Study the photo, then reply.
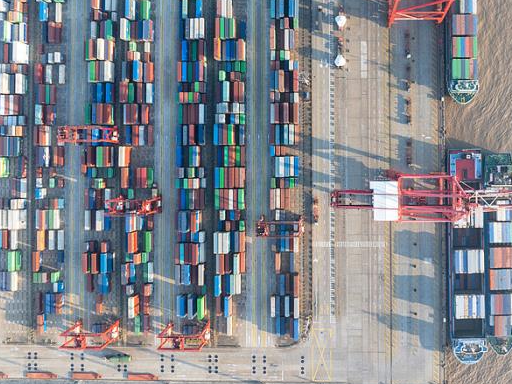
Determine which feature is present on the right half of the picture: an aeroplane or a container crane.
container crane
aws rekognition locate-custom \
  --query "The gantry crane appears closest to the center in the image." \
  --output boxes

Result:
[254,211,305,237]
